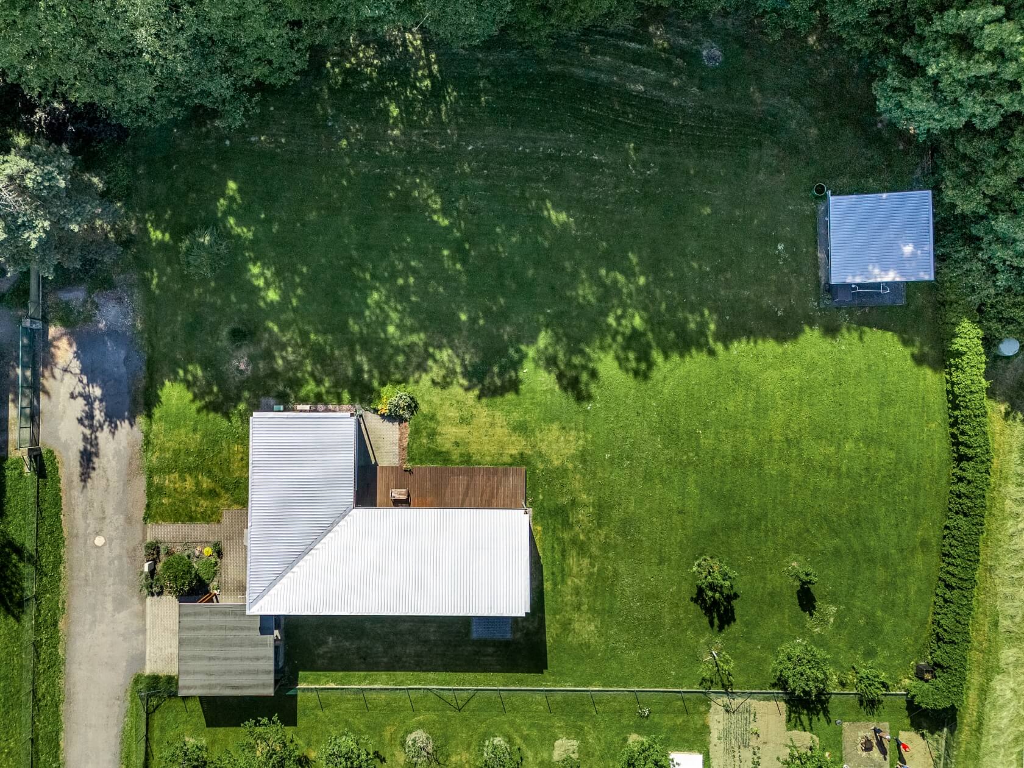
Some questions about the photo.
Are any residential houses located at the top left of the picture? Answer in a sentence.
No, no residential house appears at the top left of the picture.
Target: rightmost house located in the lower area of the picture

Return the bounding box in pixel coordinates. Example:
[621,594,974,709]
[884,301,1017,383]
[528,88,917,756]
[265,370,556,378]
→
[238,412,530,616]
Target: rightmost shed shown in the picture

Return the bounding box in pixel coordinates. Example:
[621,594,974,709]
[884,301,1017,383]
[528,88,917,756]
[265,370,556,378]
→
[819,190,935,286]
